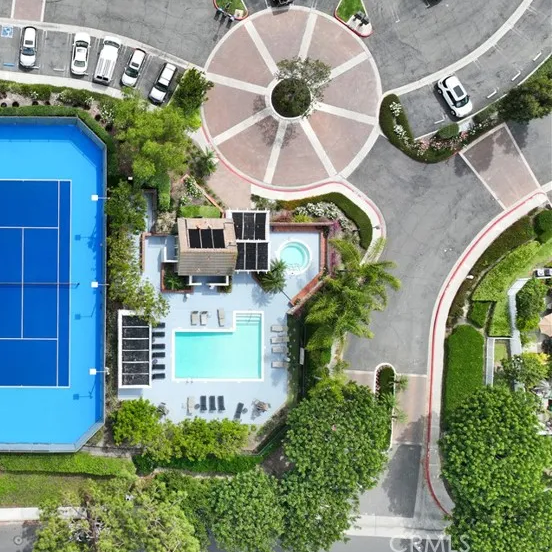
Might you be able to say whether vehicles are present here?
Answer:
Yes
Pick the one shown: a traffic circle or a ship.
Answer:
traffic circle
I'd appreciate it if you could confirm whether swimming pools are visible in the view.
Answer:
Yes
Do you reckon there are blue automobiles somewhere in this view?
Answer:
No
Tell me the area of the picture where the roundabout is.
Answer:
top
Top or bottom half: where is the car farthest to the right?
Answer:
top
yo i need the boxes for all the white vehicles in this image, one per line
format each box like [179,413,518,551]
[93,37,121,88]
[149,61,177,106]
[121,46,146,88]
[18,26,37,68]
[437,74,470,118]
[71,32,91,76]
